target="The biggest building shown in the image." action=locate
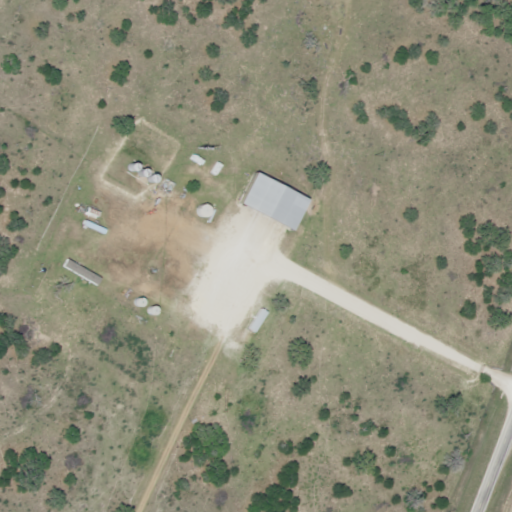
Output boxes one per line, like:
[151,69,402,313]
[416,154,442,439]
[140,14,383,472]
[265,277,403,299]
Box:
[241,172,311,230]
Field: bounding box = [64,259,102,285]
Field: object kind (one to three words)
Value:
shed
